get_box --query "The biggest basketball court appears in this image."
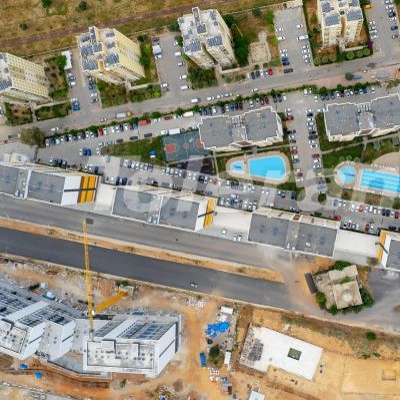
[162,129,207,162]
